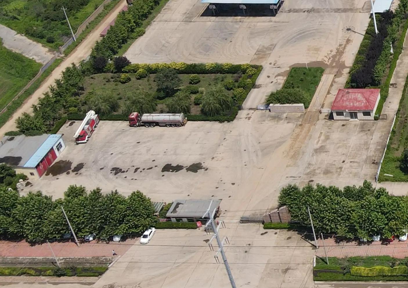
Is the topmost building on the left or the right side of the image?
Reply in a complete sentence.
You can find the topmost building on the right side of the picture.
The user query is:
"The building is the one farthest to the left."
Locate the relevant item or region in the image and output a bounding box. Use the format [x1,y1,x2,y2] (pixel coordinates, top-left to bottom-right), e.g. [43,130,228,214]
[0,134,66,178]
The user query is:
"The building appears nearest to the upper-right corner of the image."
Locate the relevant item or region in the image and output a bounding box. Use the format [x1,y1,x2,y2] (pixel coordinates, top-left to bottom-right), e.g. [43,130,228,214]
[330,89,381,121]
